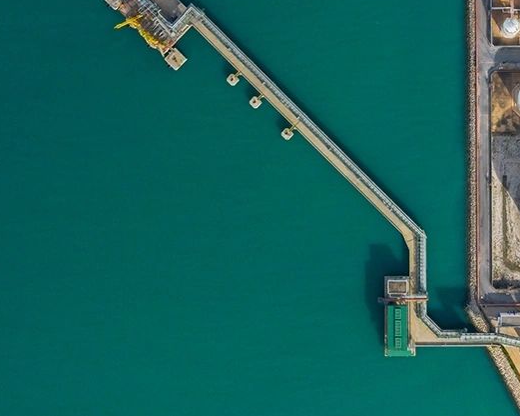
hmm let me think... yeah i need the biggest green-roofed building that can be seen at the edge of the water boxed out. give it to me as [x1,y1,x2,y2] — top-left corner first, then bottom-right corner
[388,303,409,355]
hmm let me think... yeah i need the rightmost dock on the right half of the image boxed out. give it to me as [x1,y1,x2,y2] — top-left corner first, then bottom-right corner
[192,12,520,355]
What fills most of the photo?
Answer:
water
